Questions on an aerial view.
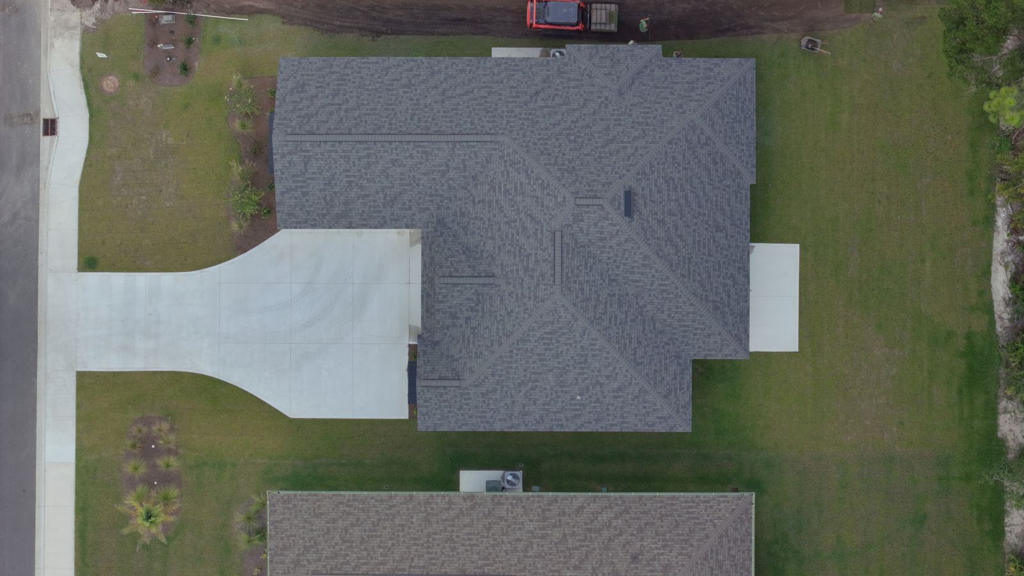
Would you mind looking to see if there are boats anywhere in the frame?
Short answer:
No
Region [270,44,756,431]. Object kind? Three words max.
house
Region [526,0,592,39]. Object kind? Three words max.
work vehicle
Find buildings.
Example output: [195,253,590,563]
[268,490,755,576]
[270,44,756,431]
